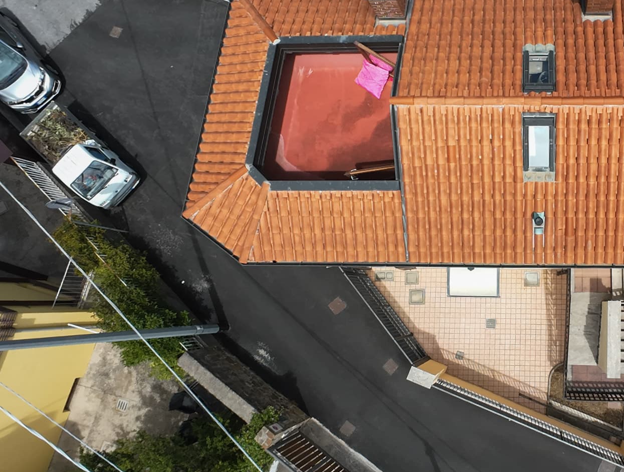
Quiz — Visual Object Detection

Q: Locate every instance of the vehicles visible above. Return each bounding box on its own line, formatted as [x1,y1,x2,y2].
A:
[0,1,66,109]
[15,99,144,211]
